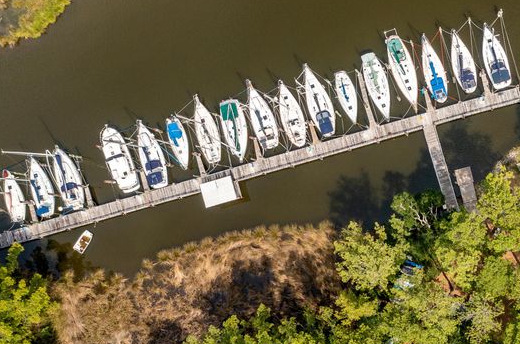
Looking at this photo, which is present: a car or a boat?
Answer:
boat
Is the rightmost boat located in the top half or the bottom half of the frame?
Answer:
top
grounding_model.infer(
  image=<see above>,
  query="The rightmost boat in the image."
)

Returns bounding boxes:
[468,13,519,96]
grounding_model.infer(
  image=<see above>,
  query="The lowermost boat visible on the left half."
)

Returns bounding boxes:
[72,228,94,255]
